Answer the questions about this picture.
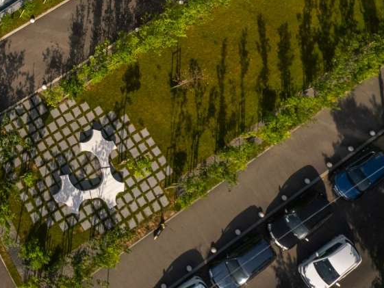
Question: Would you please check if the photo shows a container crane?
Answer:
No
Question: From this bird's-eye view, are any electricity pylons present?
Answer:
No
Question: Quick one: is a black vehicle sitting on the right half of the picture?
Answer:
Yes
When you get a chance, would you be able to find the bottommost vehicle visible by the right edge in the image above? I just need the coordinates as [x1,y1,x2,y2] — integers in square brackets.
[296,232,367,288]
